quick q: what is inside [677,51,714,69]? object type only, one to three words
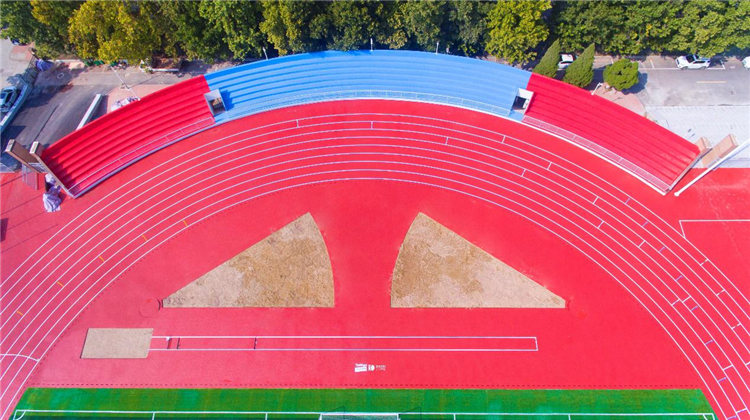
car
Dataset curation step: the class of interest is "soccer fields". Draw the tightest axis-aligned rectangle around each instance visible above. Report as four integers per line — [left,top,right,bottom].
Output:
[9,387,719,420]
